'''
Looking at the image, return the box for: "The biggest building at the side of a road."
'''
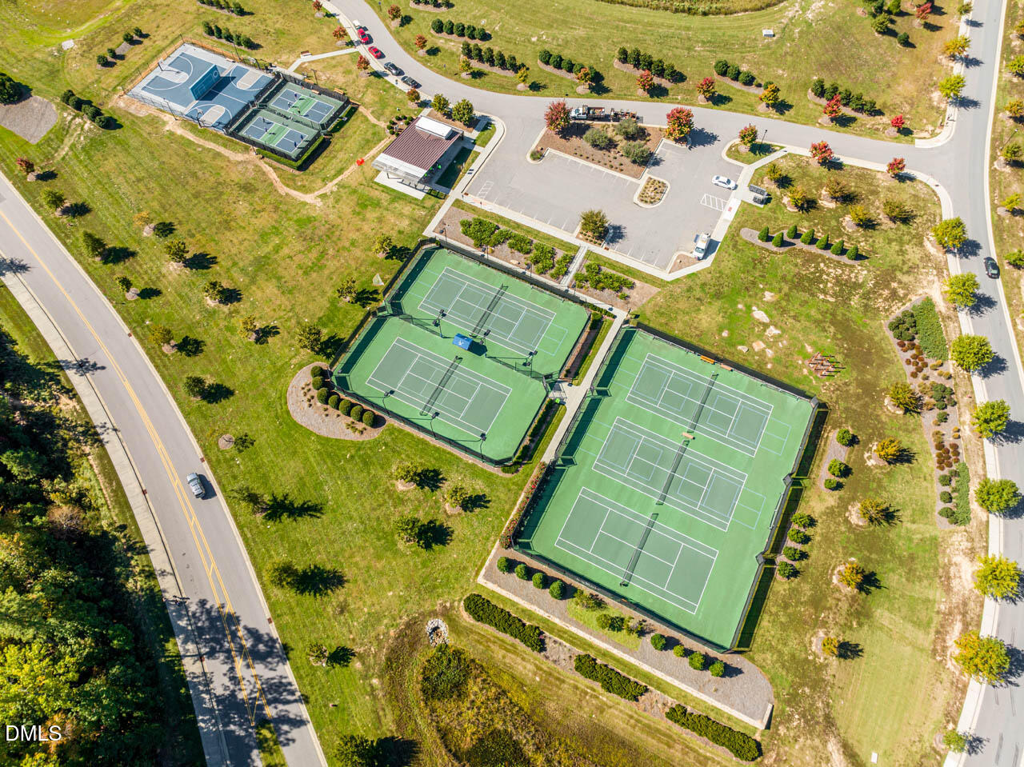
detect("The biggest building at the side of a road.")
[379,113,461,191]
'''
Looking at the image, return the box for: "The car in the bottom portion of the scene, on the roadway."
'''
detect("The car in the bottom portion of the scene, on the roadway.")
[187,472,207,501]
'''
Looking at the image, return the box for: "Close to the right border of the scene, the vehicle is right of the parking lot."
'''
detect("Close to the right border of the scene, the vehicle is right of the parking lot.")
[984,259,999,279]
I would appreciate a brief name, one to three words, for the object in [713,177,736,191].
car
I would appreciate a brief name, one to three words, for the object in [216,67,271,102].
basketball court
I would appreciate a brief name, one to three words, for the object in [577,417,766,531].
tennis court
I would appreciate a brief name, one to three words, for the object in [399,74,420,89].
vehicle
